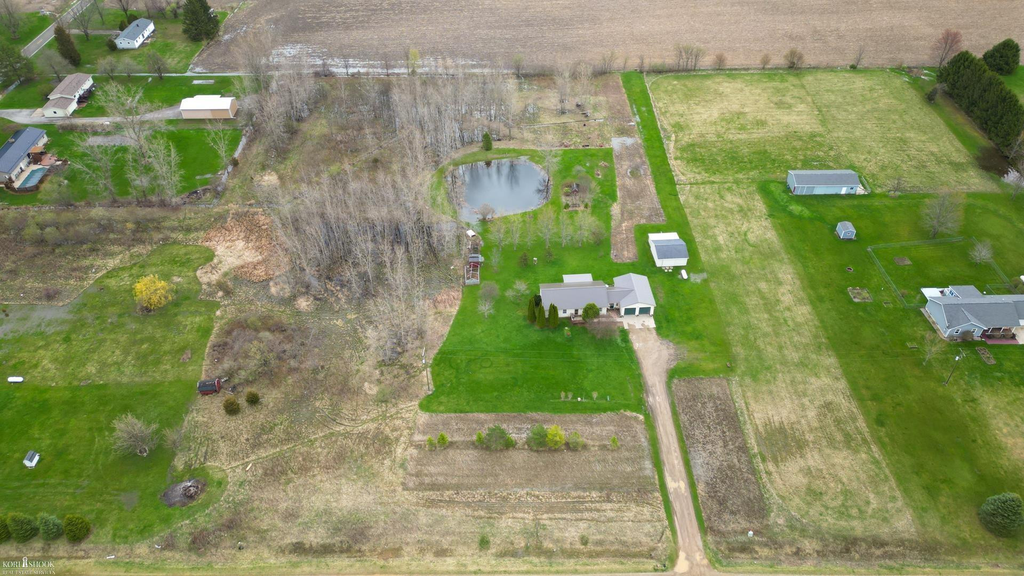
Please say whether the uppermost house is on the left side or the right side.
left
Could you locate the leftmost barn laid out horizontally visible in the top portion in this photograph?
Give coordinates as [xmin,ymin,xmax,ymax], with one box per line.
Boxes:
[179,94,238,119]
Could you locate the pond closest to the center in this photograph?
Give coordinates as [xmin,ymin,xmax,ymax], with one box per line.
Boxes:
[450,157,549,222]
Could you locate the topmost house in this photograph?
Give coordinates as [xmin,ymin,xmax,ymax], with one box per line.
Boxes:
[116,17,156,49]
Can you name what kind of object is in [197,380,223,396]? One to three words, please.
shed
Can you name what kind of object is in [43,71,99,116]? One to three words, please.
house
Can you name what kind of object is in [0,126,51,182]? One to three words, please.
house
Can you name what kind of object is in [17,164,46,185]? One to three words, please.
swimming pool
